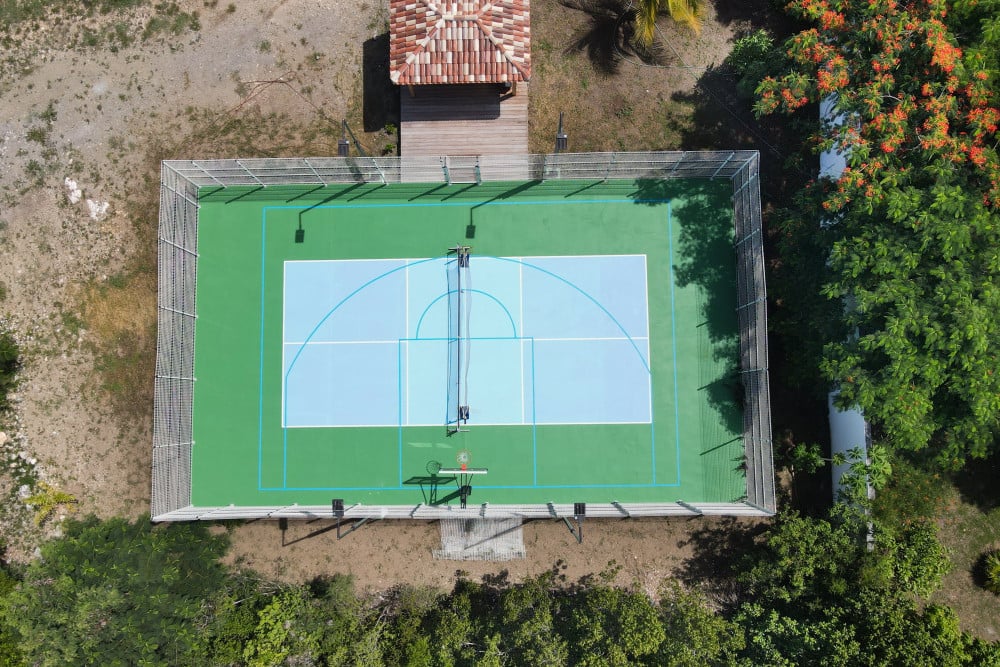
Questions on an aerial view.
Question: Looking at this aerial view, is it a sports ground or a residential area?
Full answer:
The picture captures a sports ground.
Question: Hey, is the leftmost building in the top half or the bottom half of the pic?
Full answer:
You can find the leftmost building in the top half.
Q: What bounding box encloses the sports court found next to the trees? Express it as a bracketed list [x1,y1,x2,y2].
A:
[190,176,747,511]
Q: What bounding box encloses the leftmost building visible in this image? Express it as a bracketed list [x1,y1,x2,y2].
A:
[389,0,532,100]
